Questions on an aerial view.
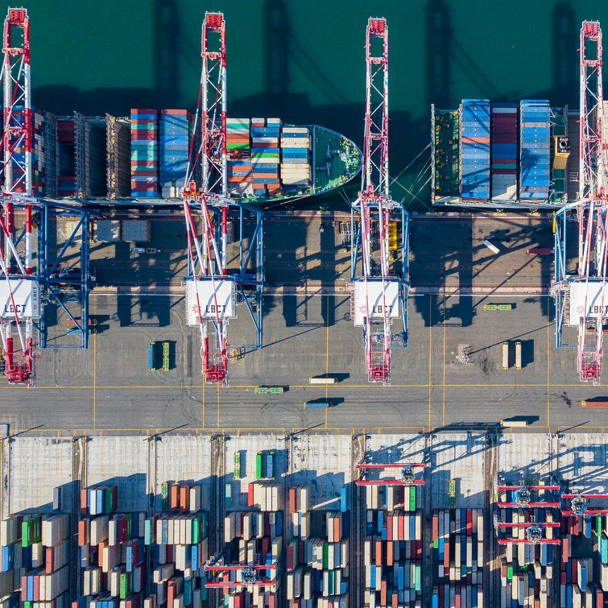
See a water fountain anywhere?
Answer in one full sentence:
No, there is no water fountain in the image.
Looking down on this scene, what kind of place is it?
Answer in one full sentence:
This image shows a port.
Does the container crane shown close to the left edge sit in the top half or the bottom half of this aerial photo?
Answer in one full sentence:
The top half of the photo is where the container crane shown close to the left edge is.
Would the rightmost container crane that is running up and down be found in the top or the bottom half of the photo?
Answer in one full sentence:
The rightmost container crane that is running up and down sits in the top half of the picture.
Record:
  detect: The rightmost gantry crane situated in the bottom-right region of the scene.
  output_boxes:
[553,478,608,516]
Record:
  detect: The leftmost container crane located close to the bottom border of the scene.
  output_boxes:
[206,546,286,589]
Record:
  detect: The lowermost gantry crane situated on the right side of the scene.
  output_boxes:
[492,505,557,546]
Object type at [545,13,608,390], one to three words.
container crane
